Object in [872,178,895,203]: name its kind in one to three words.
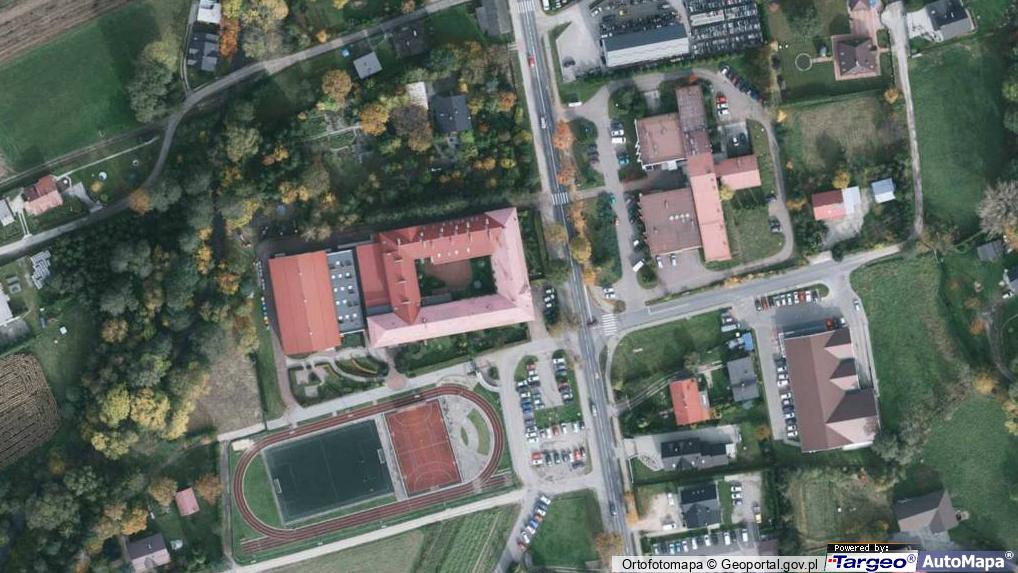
shed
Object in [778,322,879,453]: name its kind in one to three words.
building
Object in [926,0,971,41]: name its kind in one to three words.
house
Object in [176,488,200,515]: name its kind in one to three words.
shed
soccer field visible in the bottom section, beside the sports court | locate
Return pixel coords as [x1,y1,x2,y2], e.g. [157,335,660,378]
[263,422,391,525]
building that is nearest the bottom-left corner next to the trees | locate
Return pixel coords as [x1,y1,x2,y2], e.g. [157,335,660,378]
[127,533,170,572]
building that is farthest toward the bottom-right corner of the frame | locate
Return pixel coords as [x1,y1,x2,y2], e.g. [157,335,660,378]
[892,489,957,533]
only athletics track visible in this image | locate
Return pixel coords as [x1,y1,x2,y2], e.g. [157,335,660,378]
[233,382,512,551]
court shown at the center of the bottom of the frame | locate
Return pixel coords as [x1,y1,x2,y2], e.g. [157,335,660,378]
[381,398,462,494]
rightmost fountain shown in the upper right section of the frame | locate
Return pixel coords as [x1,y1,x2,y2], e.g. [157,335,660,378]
[795,53,812,71]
